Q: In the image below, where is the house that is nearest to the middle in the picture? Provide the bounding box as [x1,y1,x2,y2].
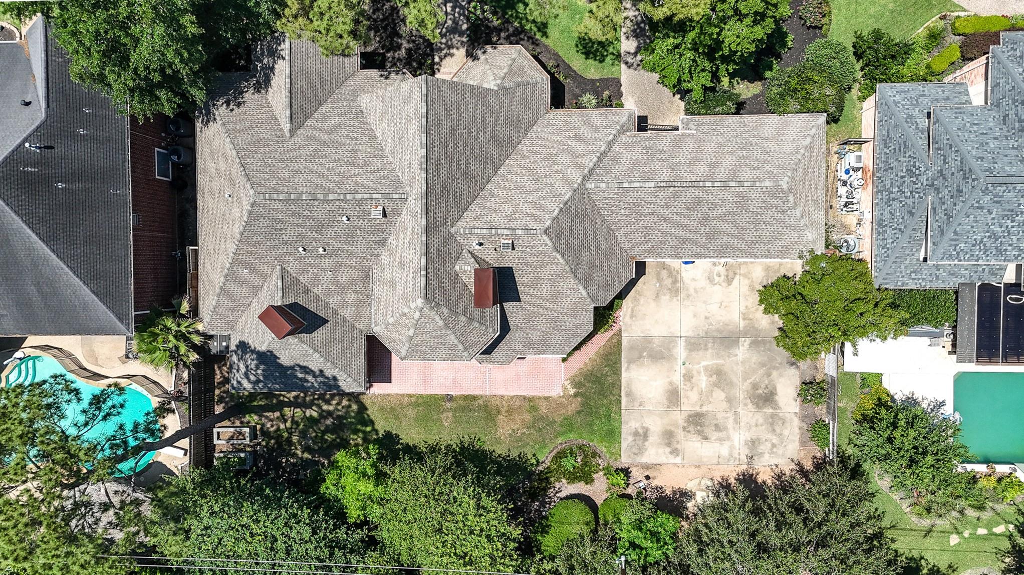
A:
[193,20,829,394]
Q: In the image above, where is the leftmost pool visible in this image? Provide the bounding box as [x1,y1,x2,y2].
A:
[0,349,164,484]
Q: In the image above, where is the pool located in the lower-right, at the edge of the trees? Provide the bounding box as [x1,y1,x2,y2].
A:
[955,372,1024,477]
